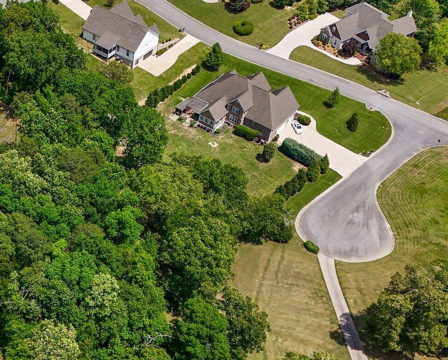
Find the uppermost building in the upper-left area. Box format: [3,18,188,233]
[81,0,159,70]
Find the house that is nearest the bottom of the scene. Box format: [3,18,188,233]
[163,67,299,141]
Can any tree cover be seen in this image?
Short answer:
Yes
